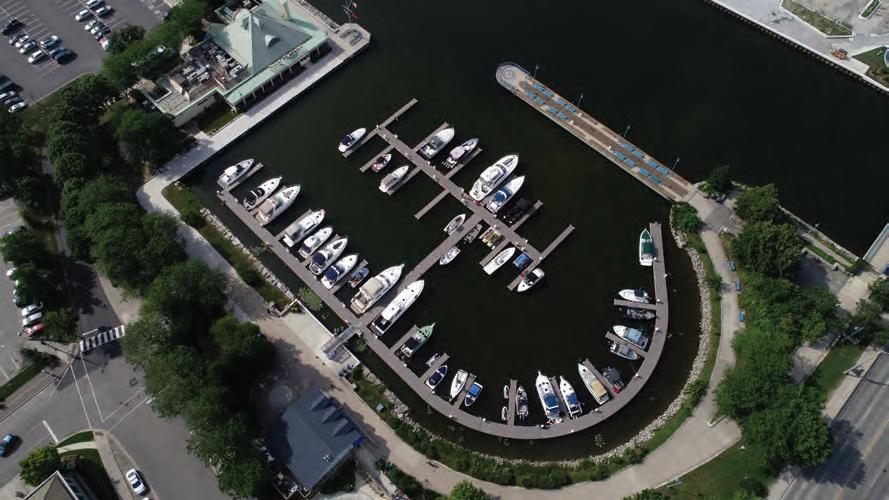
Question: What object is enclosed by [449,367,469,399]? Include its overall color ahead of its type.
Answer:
white boat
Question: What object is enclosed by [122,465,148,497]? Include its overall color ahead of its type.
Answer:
white car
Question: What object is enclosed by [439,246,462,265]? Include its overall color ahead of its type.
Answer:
white boat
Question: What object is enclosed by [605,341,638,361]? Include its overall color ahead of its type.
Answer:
gray boat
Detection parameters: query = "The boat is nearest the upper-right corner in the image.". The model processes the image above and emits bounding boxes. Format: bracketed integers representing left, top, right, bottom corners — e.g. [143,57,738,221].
[635,227,654,267]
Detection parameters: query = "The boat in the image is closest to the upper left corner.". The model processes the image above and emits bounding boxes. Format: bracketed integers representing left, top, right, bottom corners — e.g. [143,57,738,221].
[216,158,254,191]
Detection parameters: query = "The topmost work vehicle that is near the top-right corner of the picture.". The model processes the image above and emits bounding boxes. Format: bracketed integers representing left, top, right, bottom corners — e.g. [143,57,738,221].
[826,43,852,58]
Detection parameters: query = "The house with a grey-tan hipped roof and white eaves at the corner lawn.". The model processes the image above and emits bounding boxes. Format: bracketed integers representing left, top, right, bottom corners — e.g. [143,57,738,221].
[16,467,93,500]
